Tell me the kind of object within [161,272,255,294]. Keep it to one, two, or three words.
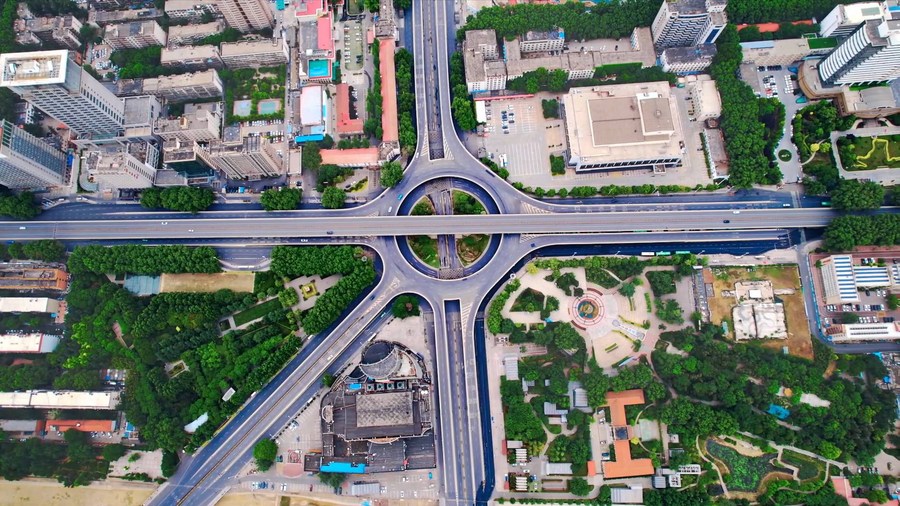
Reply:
sports field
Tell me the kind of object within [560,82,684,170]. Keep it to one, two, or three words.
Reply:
building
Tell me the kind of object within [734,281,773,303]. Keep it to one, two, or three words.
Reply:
building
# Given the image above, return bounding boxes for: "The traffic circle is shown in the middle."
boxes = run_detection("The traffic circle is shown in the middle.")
[330,131,576,330]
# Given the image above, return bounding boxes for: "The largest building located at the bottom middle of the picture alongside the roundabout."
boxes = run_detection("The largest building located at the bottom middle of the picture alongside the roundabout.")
[305,336,436,471]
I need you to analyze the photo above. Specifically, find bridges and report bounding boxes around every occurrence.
[0,206,899,240]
